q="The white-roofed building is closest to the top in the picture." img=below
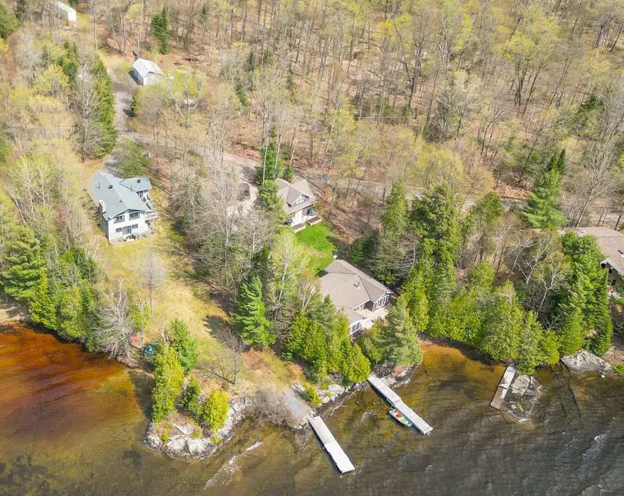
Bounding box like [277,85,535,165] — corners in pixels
[133,58,162,86]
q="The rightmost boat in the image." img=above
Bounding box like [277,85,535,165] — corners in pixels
[388,409,416,431]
